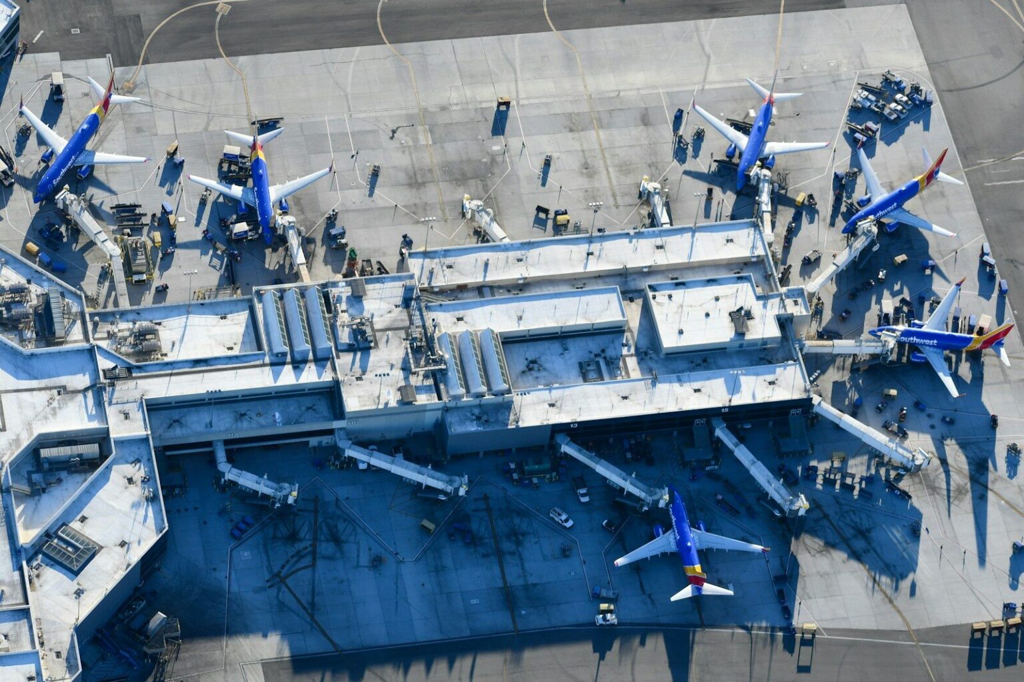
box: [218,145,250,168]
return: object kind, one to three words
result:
truck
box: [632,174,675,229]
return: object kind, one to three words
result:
jet bridge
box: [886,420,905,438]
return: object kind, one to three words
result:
work vehicle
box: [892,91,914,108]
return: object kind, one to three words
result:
vehicle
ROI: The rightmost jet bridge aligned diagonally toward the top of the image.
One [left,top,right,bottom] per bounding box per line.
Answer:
[804,218,875,309]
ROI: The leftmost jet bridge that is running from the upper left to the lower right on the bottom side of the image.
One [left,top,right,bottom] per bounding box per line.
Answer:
[214,436,301,512]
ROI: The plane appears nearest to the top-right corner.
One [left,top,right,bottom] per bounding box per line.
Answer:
[842,138,962,237]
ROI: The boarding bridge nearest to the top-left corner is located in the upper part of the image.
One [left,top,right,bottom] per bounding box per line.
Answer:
[52,188,128,309]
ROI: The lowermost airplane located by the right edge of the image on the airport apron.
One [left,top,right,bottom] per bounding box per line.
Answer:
[870,276,1020,397]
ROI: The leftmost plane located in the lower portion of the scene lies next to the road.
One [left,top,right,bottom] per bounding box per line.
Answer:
[614,486,770,604]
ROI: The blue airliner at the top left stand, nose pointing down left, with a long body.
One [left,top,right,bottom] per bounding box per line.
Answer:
[19,70,152,203]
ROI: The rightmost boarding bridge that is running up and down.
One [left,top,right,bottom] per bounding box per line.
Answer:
[740,169,776,257]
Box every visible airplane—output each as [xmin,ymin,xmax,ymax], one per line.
[19,70,152,203]
[614,486,770,604]
[870,276,1020,397]
[185,113,334,245]
[842,138,962,237]
[693,70,833,190]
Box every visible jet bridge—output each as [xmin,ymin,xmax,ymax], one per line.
[271,205,310,285]
[740,169,776,257]
[807,391,937,474]
[554,436,672,509]
[804,218,875,309]
[457,193,519,243]
[337,425,472,498]
[795,334,896,375]
[632,174,675,229]
[214,436,301,512]
[52,188,128,309]
[713,420,815,517]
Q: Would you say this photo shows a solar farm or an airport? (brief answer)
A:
airport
